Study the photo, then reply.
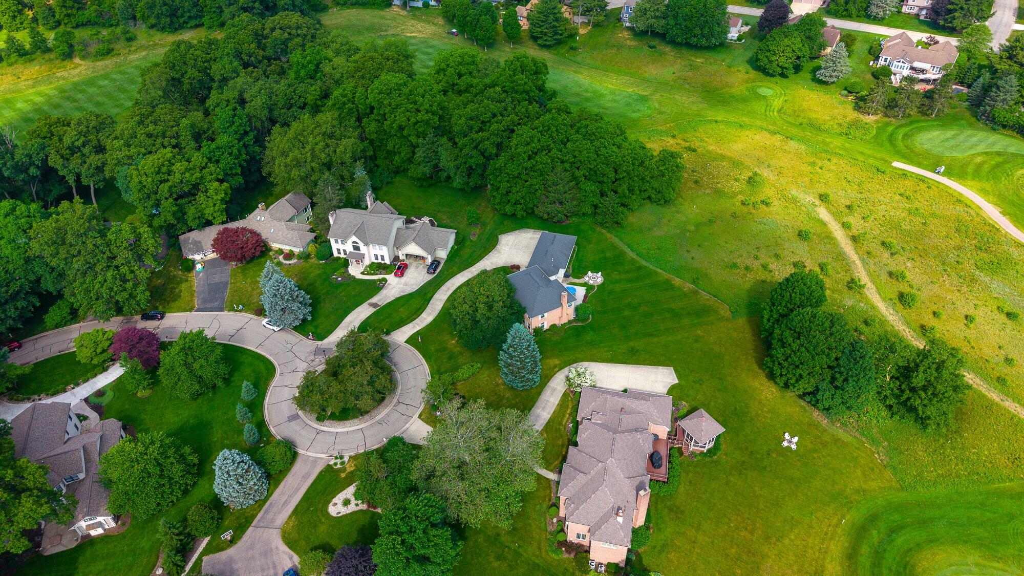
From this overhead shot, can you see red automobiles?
Yes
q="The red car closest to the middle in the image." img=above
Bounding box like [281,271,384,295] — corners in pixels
[392,260,409,276]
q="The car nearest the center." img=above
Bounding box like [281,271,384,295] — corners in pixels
[424,258,442,274]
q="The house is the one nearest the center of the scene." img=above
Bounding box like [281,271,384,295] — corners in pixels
[503,231,578,329]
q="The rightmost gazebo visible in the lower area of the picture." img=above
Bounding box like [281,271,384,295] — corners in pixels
[671,409,728,457]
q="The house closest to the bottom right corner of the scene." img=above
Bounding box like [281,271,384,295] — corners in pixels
[558,386,675,563]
